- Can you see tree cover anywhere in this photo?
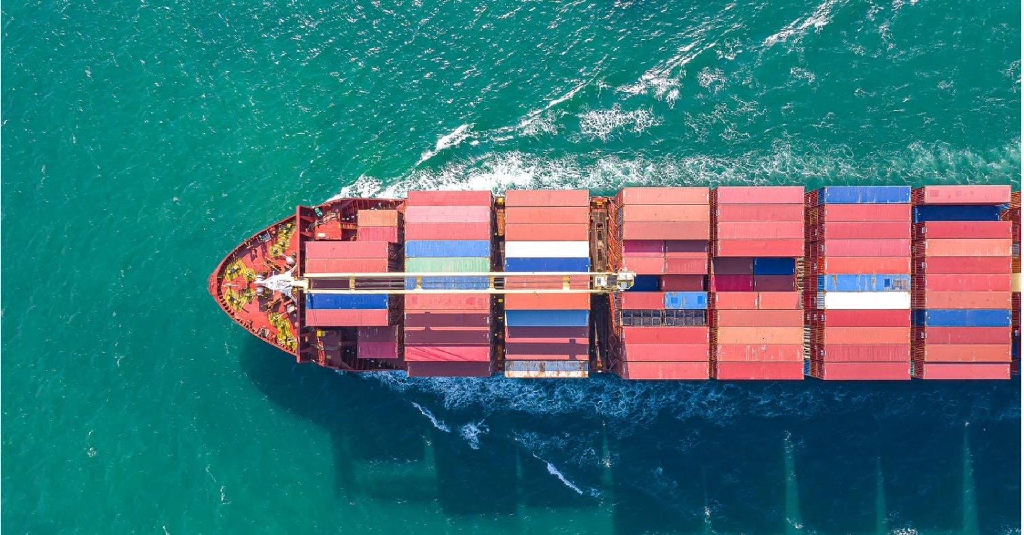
No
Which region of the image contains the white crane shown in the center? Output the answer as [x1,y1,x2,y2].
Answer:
[304,267,635,301]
